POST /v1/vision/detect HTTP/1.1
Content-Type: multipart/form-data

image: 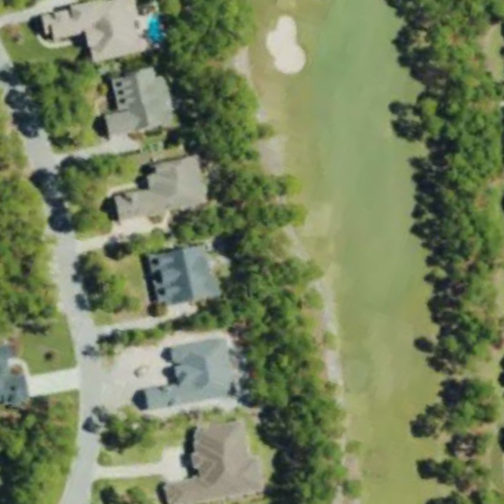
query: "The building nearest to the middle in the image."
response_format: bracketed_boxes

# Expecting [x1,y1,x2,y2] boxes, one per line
[149,246,222,305]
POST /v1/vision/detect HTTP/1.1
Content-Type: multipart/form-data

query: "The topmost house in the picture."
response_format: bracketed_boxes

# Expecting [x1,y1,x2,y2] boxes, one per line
[40,0,149,63]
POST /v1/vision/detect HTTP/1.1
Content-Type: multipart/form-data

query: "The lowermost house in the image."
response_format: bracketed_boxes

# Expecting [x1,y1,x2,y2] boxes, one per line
[169,420,269,504]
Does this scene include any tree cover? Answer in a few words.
Yes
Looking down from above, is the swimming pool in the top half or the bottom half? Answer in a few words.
top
